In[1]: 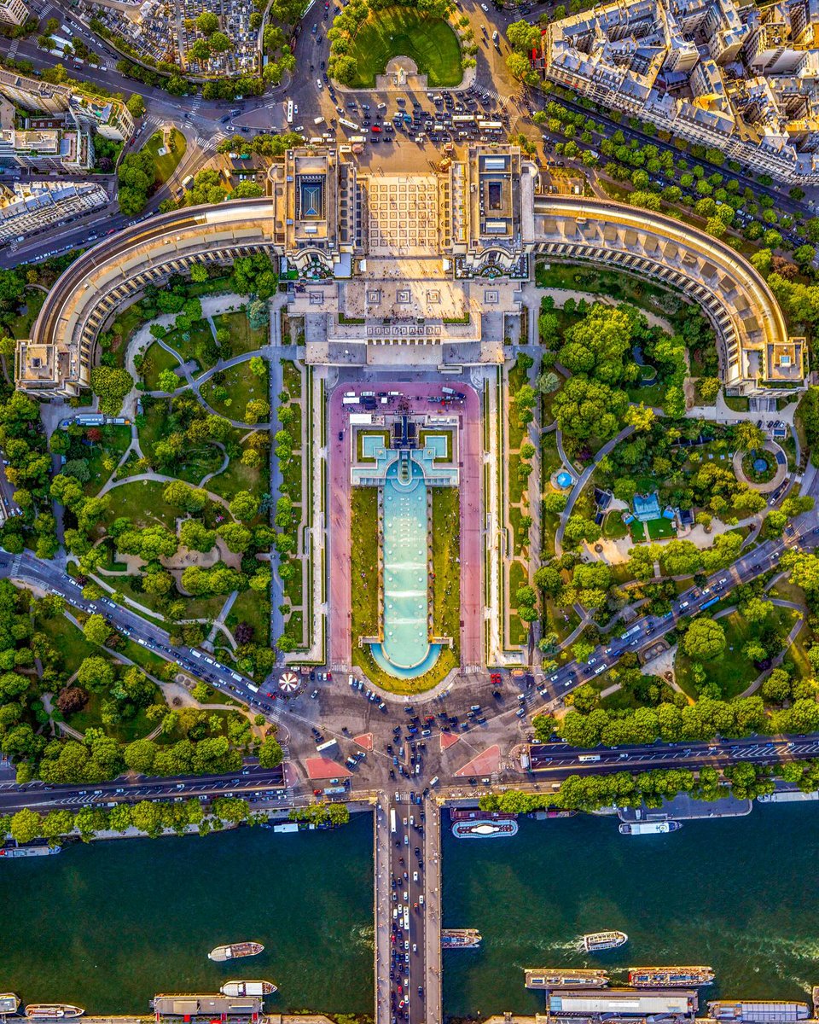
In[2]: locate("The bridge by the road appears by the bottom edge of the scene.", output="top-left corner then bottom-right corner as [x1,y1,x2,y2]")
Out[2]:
[372,798,446,1024]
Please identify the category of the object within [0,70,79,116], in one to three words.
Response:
building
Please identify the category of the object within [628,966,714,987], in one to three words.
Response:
boat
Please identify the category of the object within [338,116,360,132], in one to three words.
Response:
vehicle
